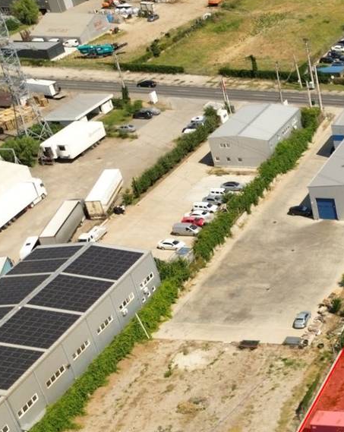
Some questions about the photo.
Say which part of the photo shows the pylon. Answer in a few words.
top left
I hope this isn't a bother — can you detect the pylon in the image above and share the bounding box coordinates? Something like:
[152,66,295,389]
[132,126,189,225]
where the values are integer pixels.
[0,8,55,133]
